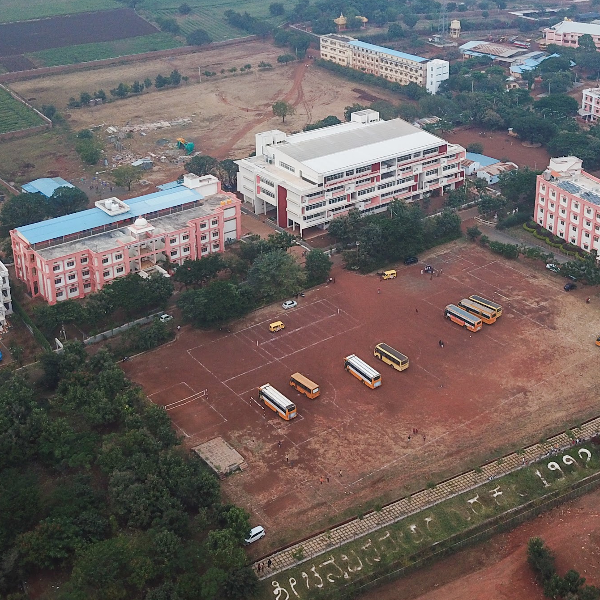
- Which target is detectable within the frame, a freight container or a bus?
bus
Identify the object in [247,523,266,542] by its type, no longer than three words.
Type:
car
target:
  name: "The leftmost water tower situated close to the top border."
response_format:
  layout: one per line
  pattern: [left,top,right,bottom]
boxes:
[448,11,463,38]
